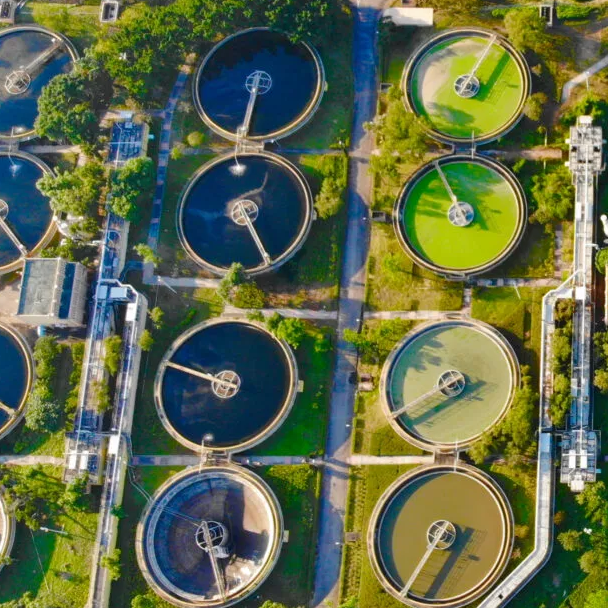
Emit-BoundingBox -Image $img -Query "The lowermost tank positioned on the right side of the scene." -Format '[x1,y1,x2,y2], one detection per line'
[368,464,514,608]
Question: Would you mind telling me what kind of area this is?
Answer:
industrial area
